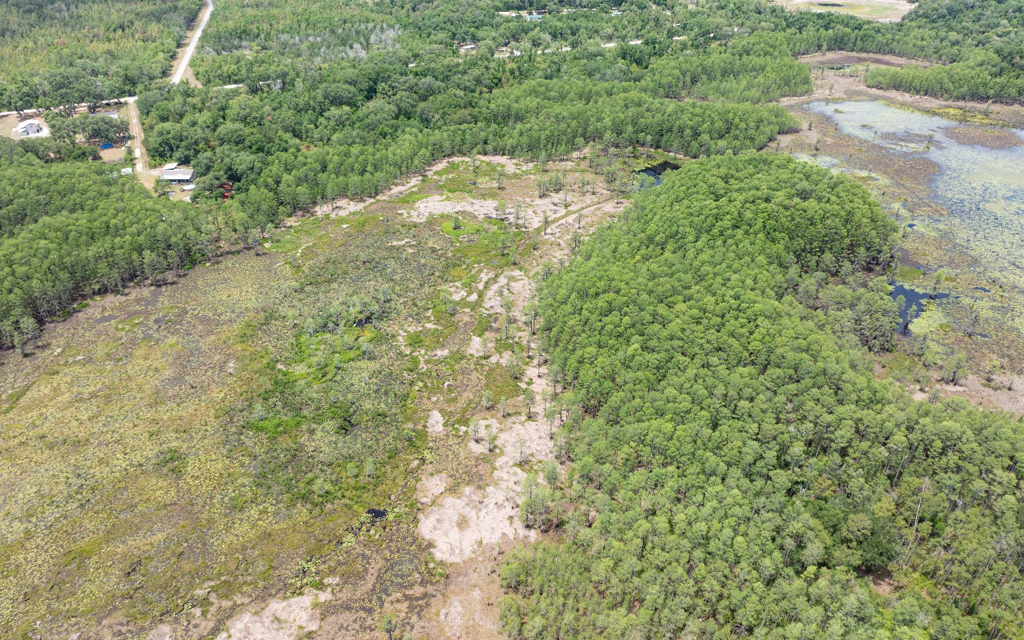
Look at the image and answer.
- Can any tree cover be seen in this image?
Yes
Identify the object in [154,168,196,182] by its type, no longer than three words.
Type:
house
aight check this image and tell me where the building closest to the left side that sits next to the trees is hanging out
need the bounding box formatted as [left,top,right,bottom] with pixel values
[11,121,44,135]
